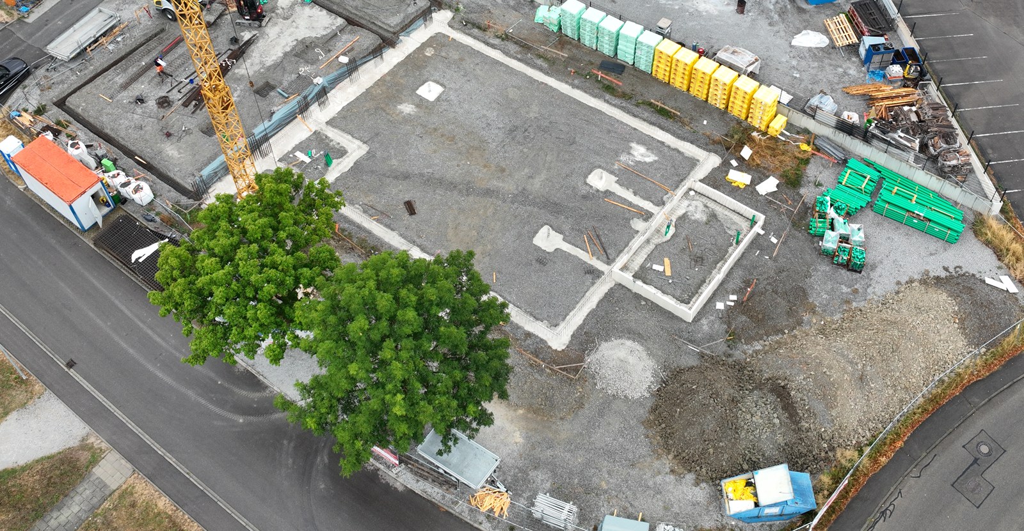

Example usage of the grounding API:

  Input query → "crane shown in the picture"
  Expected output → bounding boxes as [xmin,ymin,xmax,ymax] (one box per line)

[169,0,264,202]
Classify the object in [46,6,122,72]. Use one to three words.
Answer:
trailer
